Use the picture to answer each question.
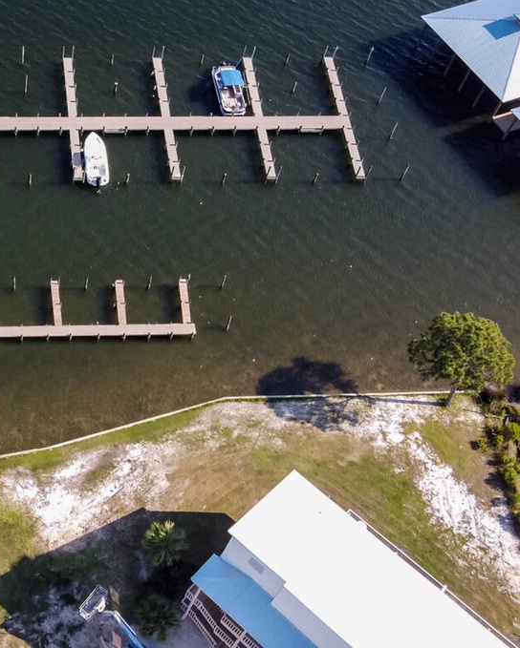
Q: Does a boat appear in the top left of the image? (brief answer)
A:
Yes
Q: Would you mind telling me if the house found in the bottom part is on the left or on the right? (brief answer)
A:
right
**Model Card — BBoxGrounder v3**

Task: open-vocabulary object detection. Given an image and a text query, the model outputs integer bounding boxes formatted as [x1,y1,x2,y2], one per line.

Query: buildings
[178,470,520,648]
[418,0,520,143]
